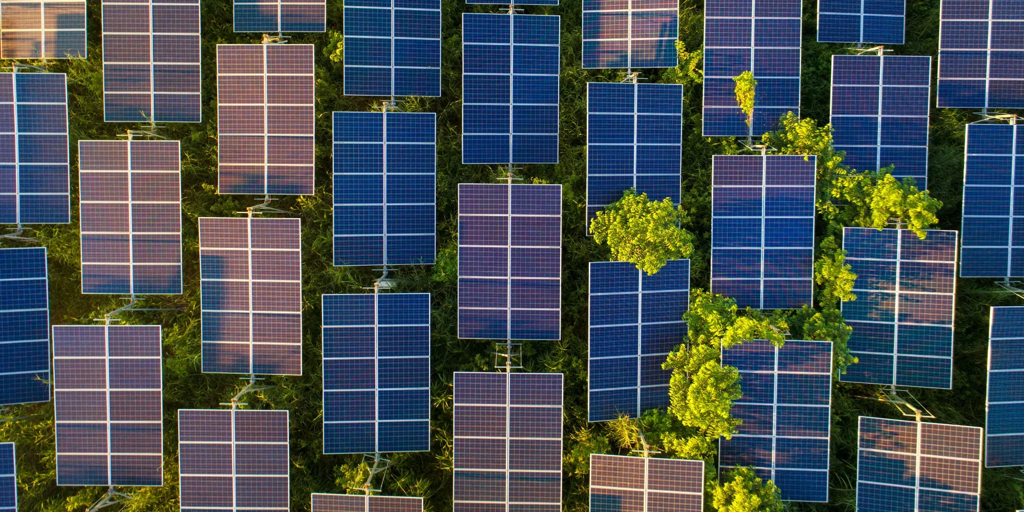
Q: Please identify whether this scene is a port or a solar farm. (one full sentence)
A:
This image shows a solar farm.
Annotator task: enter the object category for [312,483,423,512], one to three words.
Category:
solar panel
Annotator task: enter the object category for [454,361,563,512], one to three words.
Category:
solar panel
